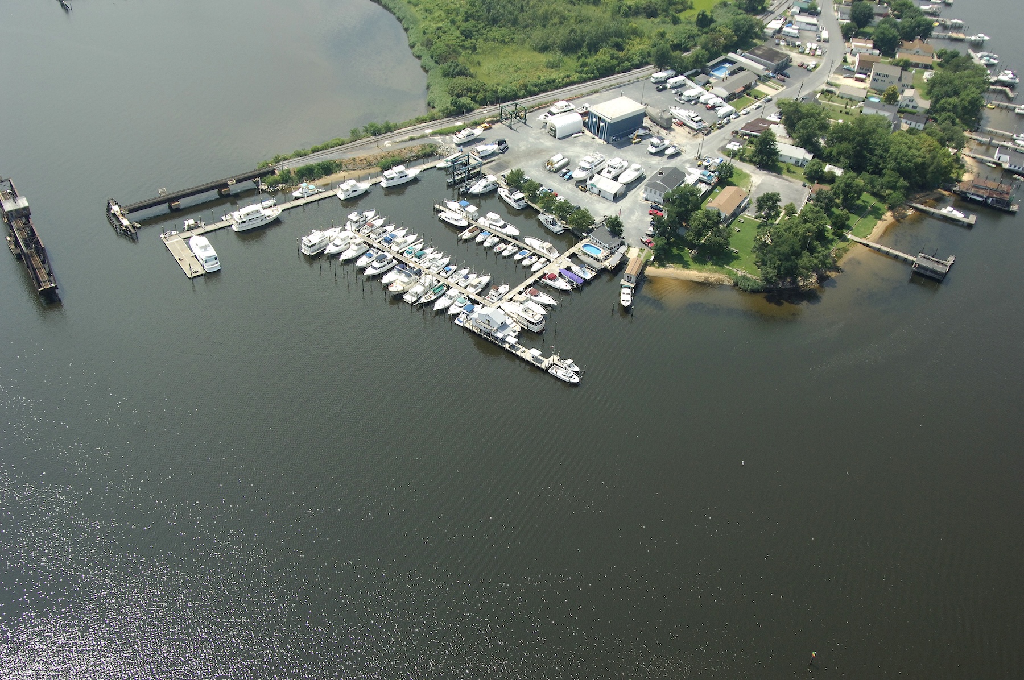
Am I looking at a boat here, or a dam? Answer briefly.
boat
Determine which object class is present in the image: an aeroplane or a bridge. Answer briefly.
bridge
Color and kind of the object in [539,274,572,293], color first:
white boat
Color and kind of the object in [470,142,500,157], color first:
white boat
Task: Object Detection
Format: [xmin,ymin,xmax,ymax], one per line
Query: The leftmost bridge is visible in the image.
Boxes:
[0,178,63,304]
